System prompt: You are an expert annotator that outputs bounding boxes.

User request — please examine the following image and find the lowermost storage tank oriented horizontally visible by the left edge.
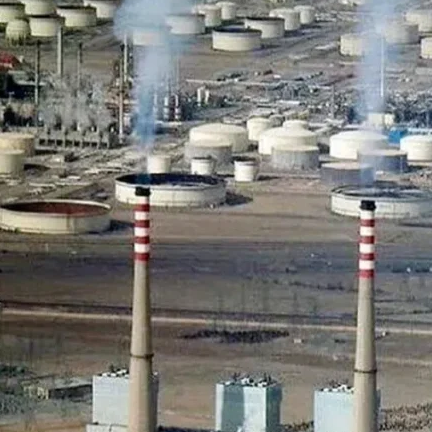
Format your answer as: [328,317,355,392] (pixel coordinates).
[0,198,115,234]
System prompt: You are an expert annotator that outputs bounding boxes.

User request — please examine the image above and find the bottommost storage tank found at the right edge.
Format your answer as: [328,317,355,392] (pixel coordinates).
[331,185,432,219]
